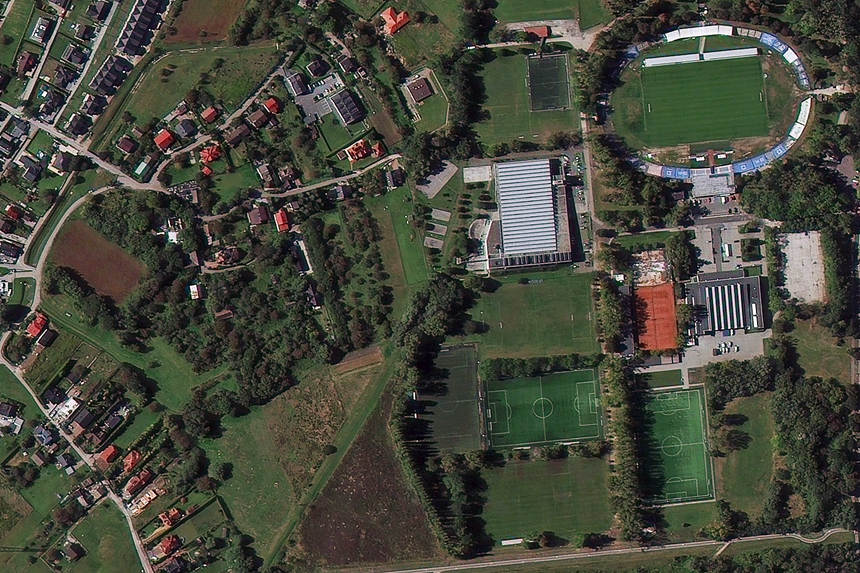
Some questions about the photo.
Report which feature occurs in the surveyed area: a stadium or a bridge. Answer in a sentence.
Visible in the photo is a stadium.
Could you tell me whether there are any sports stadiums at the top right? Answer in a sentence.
Yes, I can see a sports stadium at the top right.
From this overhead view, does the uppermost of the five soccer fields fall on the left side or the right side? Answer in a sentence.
The uppermost of the five soccer fields is on the right side of the image.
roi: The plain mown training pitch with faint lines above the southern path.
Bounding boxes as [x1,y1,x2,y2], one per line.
[482,458,613,539]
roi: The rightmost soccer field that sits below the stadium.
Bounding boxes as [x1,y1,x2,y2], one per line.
[641,387,714,504]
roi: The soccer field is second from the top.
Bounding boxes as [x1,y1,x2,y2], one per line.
[478,274,597,360]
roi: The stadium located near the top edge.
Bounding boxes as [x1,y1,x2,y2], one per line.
[604,24,816,198]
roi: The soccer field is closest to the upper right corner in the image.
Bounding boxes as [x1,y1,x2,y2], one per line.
[641,55,771,149]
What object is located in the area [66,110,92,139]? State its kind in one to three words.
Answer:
house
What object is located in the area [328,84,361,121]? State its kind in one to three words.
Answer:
building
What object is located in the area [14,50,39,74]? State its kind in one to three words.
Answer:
house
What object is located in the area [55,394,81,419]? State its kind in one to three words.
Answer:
building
